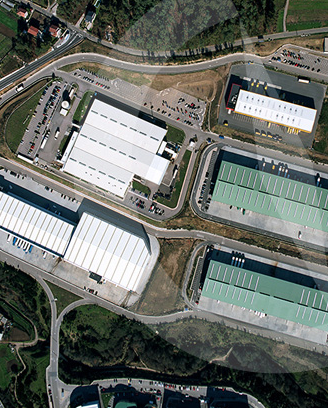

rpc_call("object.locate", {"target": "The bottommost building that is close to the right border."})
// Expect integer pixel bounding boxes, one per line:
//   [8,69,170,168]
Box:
[201,259,328,334]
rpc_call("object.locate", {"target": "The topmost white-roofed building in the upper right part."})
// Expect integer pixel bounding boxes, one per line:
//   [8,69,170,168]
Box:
[225,83,317,133]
